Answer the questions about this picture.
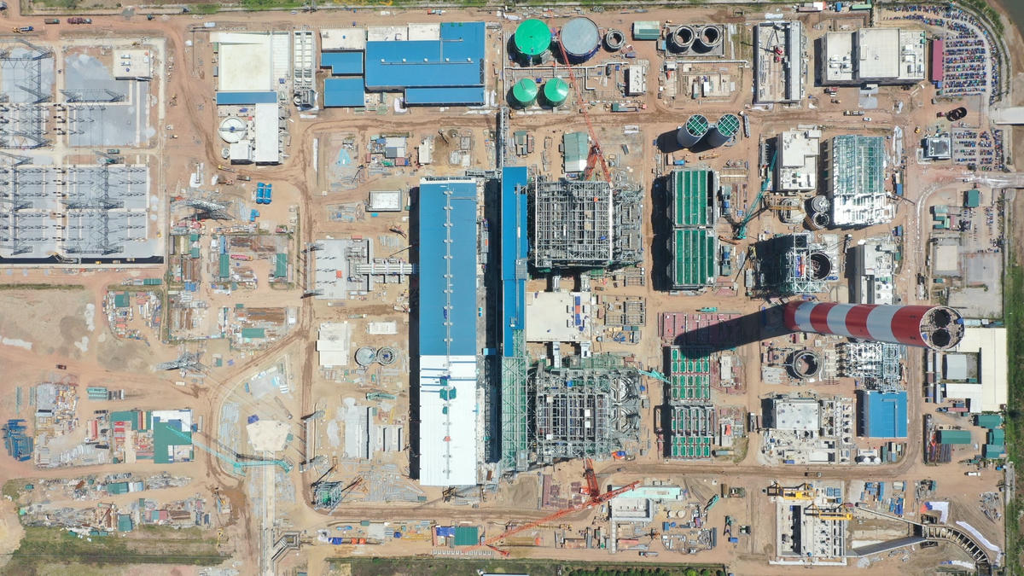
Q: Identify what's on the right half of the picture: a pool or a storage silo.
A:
storage silo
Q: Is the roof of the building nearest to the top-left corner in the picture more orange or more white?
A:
white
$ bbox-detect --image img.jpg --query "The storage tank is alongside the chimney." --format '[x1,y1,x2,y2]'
[781,347,818,379]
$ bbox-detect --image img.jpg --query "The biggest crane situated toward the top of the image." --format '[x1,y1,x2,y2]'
[557,37,613,185]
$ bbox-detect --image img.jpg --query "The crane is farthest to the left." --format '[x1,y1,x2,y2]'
[165,423,298,476]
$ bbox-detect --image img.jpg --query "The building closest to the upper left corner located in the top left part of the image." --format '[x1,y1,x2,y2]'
[114,50,156,81]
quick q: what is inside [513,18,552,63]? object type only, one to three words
storage tank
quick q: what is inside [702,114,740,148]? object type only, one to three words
silo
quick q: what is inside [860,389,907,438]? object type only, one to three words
building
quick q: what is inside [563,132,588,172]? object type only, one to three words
shed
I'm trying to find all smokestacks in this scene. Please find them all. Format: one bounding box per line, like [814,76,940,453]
[783,299,964,350]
